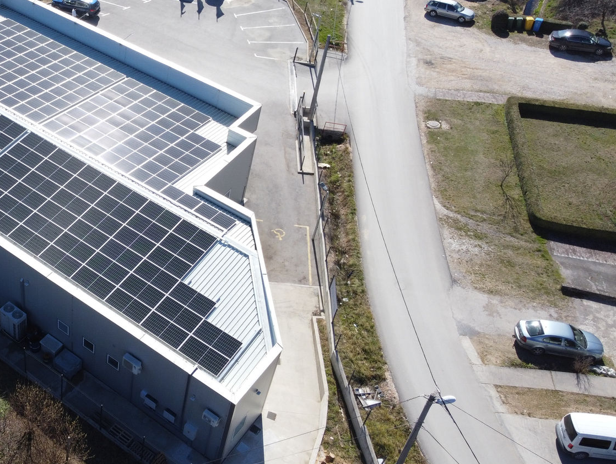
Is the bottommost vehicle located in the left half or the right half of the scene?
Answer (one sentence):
The bottommost vehicle appears in the right half of the scene.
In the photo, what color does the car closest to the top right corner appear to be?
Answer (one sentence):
In this view, the car closest to the top right corner is black.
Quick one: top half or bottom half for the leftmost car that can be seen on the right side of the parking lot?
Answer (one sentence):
The leftmost car that can be seen on the right side of the parking lot sits in the top half of the picture.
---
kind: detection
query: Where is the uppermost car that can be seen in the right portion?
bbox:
[424,0,476,24]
